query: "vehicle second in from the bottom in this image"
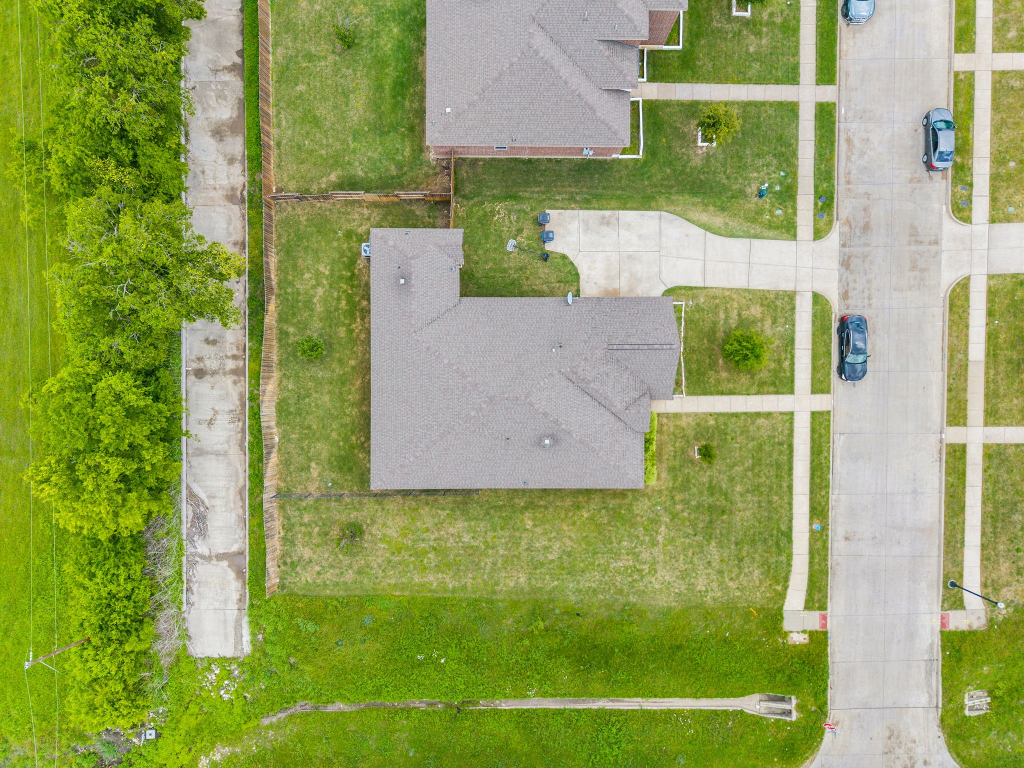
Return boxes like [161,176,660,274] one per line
[921,109,959,173]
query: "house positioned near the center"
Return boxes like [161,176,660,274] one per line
[370,227,683,490]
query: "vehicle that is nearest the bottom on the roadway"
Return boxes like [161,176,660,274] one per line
[835,314,871,381]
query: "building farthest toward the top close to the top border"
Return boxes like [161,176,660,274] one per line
[425,0,688,157]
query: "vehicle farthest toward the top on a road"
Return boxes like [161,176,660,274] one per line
[841,0,876,27]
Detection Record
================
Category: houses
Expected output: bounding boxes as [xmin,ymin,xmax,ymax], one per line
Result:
[370,227,683,490]
[425,0,688,157]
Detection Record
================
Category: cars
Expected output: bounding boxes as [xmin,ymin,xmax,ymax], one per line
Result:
[835,314,871,381]
[841,0,876,27]
[921,109,959,173]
